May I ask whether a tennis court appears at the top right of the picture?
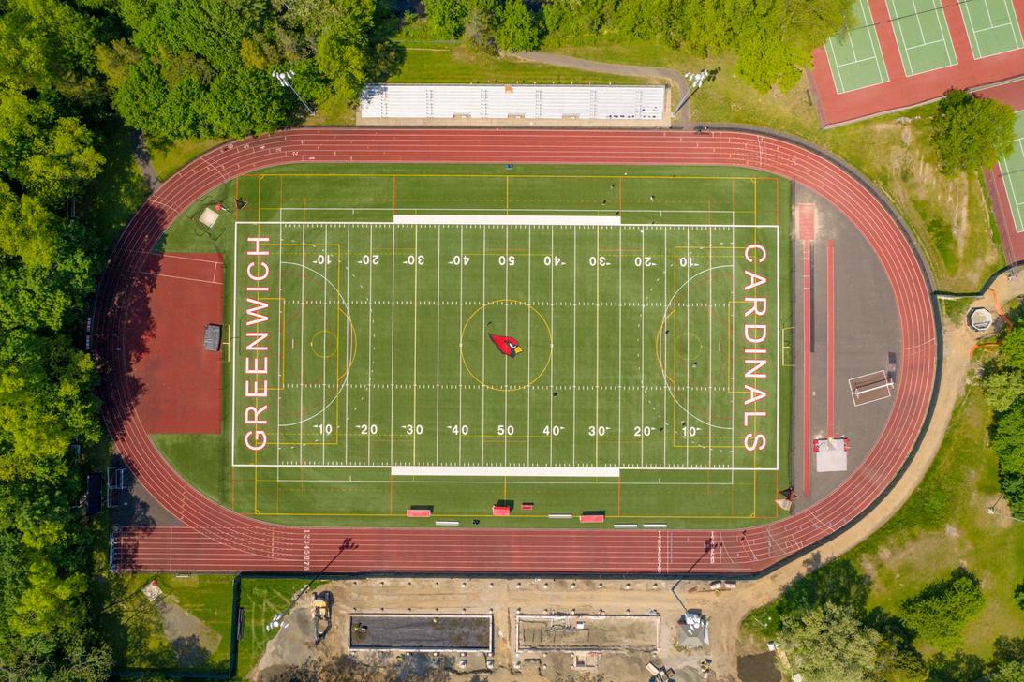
Yes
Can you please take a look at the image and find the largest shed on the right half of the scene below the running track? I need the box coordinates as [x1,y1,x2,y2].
[677,621,706,650]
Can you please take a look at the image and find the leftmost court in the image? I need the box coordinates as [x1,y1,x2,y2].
[816,0,890,95]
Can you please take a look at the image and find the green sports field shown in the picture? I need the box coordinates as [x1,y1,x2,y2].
[150,164,794,529]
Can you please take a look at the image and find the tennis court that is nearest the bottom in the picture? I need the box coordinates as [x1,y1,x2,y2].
[996,109,1024,233]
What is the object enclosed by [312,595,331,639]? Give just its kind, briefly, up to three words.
work vehicle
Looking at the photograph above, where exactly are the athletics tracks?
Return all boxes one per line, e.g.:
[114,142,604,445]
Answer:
[91,128,937,574]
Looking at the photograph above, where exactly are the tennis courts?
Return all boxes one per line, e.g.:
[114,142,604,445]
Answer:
[886,0,959,77]
[996,109,1024,233]
[956,0,1024,60]
[816,0,890,95]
